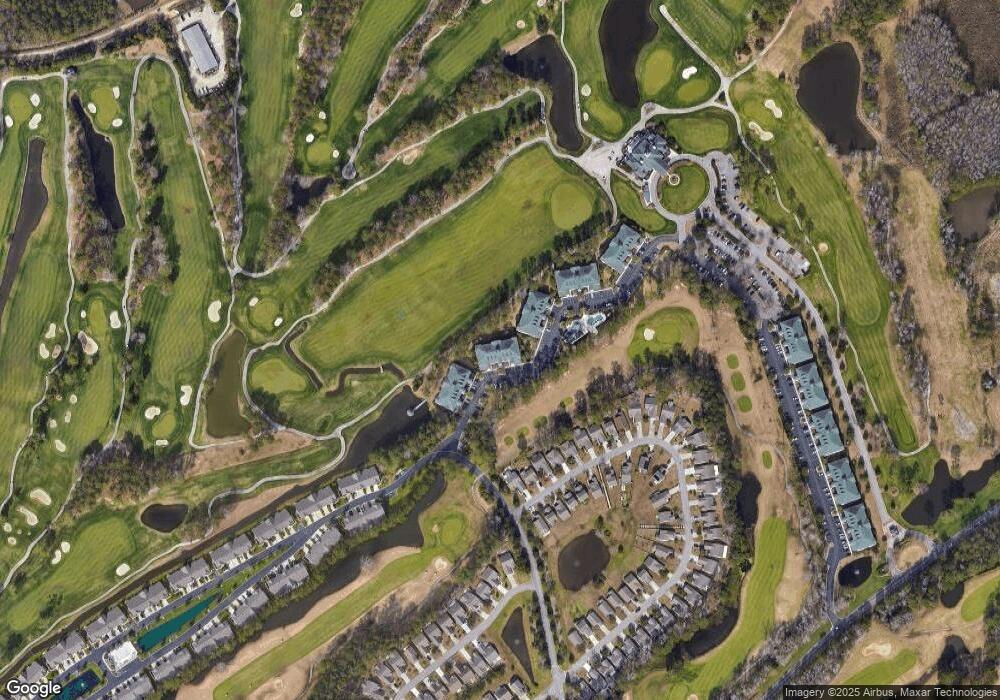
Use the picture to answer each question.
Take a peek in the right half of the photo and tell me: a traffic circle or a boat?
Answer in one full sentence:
The feature located in the right half of the photo is a traffic circle.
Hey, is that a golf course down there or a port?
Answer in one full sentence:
This looks like a golf course.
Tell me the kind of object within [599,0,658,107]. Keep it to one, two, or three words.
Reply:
pond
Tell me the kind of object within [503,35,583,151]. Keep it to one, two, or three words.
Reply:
pond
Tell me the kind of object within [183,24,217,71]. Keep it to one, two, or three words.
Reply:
shed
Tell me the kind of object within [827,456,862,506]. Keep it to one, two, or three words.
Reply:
building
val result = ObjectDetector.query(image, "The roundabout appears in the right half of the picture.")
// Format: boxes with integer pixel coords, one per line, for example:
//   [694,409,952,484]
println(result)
[653,155,717,219]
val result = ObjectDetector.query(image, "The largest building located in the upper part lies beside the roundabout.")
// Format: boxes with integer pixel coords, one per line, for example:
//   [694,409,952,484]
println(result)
[620,130,672,185]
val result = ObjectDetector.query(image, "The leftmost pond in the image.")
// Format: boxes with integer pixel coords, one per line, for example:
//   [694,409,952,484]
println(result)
[0,137,48,304]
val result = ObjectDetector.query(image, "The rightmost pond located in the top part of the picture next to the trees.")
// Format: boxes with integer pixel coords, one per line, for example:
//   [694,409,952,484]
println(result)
[949,186,1000,239]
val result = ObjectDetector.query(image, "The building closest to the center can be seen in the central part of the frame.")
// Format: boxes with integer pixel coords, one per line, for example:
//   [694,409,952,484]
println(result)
[476,338,521,370]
